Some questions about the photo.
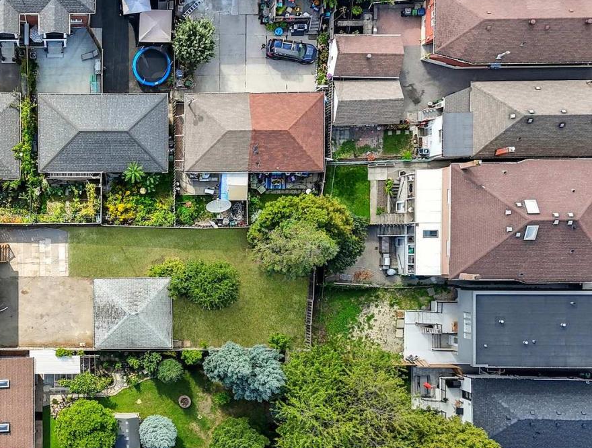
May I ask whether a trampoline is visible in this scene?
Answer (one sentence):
Yes, looking at the shot, I can spot a trampoline.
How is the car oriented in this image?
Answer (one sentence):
In this picture, the car lies from side to side.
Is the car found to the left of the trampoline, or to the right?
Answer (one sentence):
From the viewer's perspective, the car falls to the right of the trampoline.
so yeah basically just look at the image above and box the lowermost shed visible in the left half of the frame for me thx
[115,410,140,448]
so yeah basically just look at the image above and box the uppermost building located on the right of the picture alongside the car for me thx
[324,34,404,83]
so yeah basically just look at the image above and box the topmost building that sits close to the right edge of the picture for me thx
[420,0,592,72]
